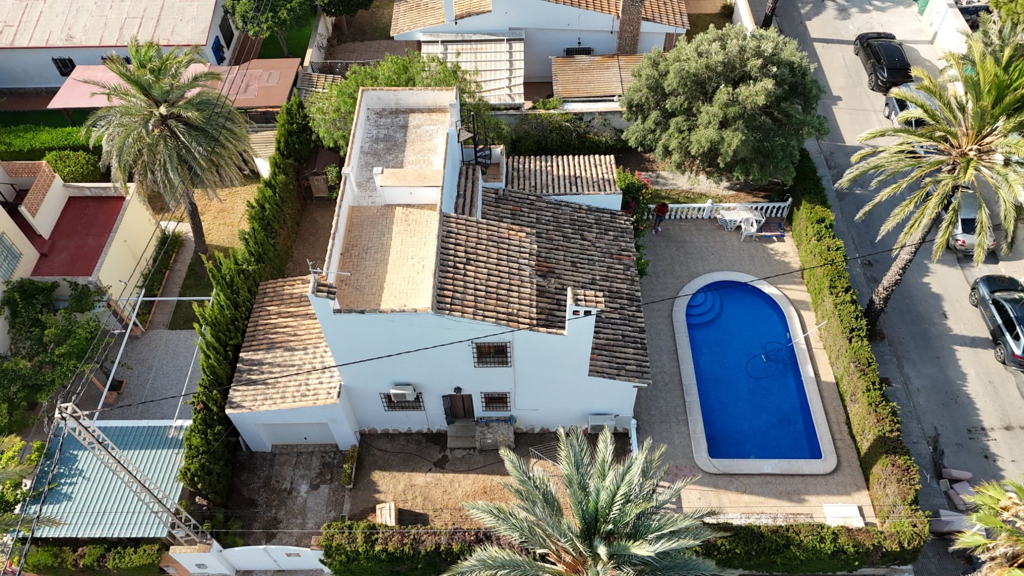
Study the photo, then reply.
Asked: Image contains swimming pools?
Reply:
Yes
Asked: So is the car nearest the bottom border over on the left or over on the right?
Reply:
right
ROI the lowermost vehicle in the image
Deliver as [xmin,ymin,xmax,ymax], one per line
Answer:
[972,286,1024,382]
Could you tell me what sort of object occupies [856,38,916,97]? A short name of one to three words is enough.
car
